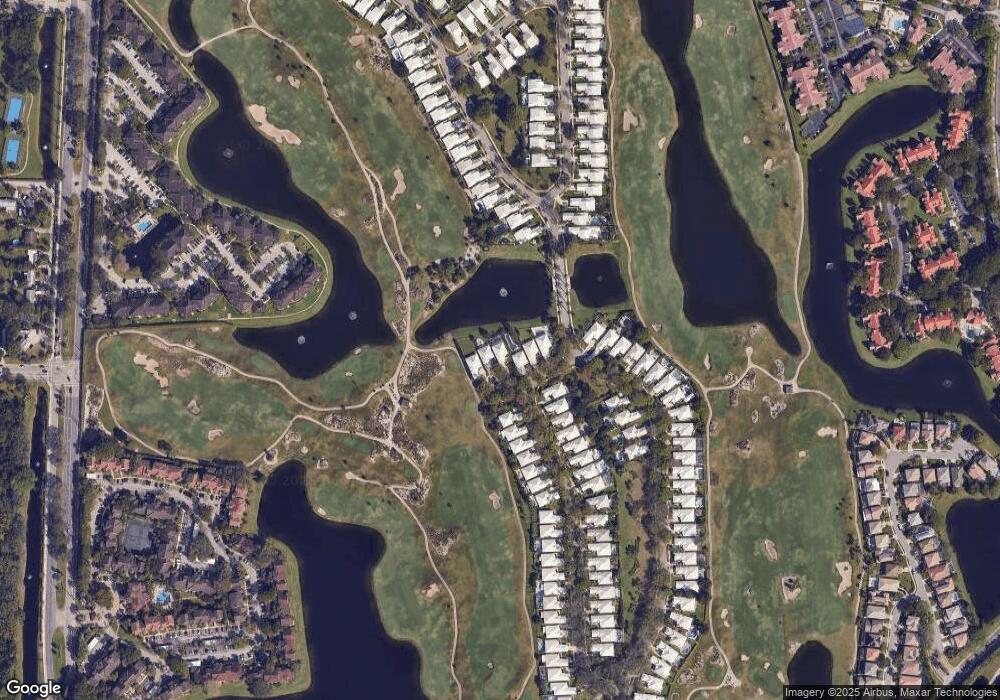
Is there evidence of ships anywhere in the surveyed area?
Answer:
No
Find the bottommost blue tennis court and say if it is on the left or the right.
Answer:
left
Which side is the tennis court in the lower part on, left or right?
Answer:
left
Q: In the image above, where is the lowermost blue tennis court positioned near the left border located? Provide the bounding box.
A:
[3,136,22,168]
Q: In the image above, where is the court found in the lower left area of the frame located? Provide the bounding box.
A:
[127,519,151,549]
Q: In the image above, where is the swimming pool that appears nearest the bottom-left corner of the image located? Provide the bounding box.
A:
[153,586,172,606]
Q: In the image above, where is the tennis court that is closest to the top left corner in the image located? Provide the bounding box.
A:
[5,94,23,124]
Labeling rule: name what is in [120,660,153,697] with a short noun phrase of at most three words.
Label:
house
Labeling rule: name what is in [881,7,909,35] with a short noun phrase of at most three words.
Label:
swimming pool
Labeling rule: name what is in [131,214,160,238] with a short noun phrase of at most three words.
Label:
swimming pool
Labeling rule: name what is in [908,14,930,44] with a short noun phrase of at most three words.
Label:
building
